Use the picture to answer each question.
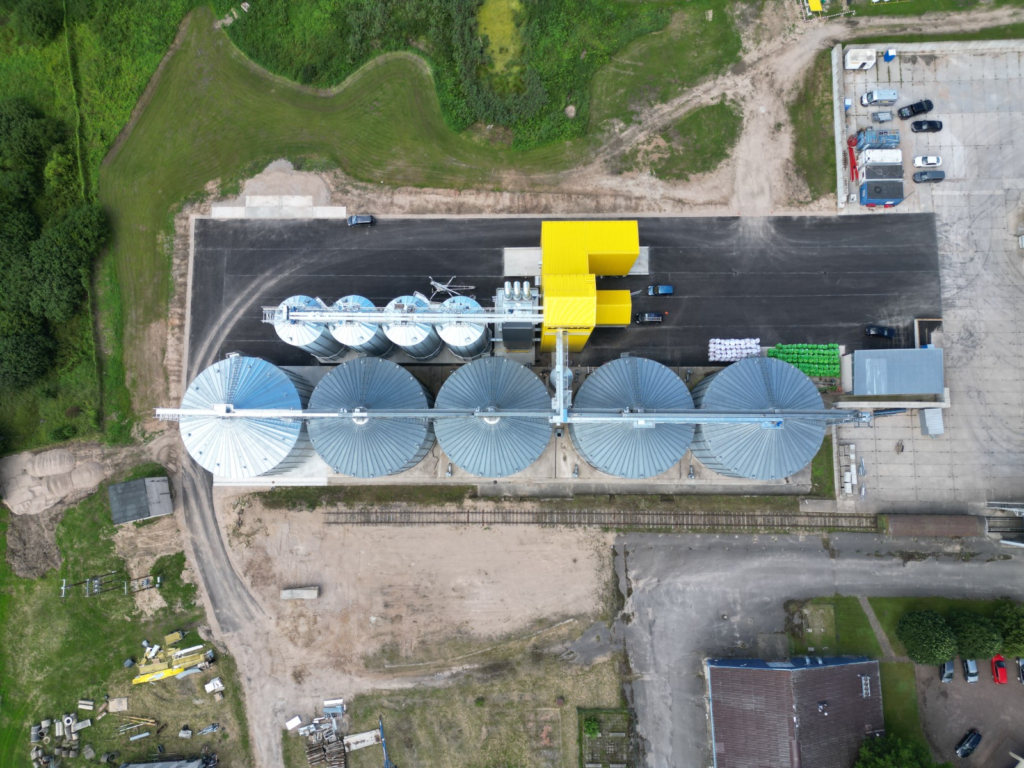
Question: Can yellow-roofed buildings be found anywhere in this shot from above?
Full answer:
Yes, there is a yellow-roofed building in the image.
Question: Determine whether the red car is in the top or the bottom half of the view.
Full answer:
The red car sits in the bottom half of the picture.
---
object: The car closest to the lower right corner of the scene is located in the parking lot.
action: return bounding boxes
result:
[954,728,985,760]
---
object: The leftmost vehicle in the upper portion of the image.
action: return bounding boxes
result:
[347,213,375,227]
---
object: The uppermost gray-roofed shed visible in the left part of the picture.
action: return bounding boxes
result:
[109,477,181,526]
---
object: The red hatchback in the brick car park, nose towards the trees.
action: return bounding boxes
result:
[990,654,1011,684]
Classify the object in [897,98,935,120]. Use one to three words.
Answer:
truck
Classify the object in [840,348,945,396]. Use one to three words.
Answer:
shed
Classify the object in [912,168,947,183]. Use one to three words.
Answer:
car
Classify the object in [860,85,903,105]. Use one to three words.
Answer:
vehicle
